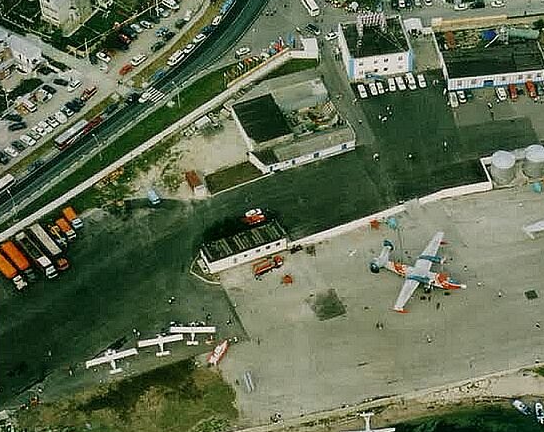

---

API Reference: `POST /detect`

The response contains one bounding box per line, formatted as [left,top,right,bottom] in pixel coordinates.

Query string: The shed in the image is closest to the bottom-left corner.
[199,218,288,272]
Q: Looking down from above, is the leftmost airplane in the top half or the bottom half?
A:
bottom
